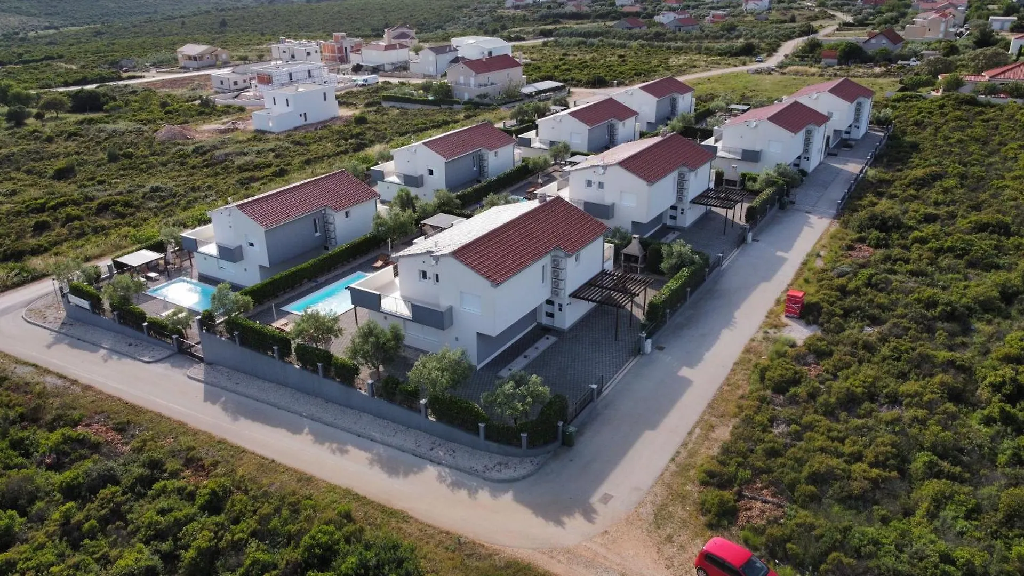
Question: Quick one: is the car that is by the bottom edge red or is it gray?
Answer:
red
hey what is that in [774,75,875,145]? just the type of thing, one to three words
house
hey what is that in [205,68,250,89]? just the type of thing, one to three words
house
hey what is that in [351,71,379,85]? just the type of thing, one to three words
vehicle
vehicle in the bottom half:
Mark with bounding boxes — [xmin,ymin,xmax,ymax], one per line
[692,539,769,576]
